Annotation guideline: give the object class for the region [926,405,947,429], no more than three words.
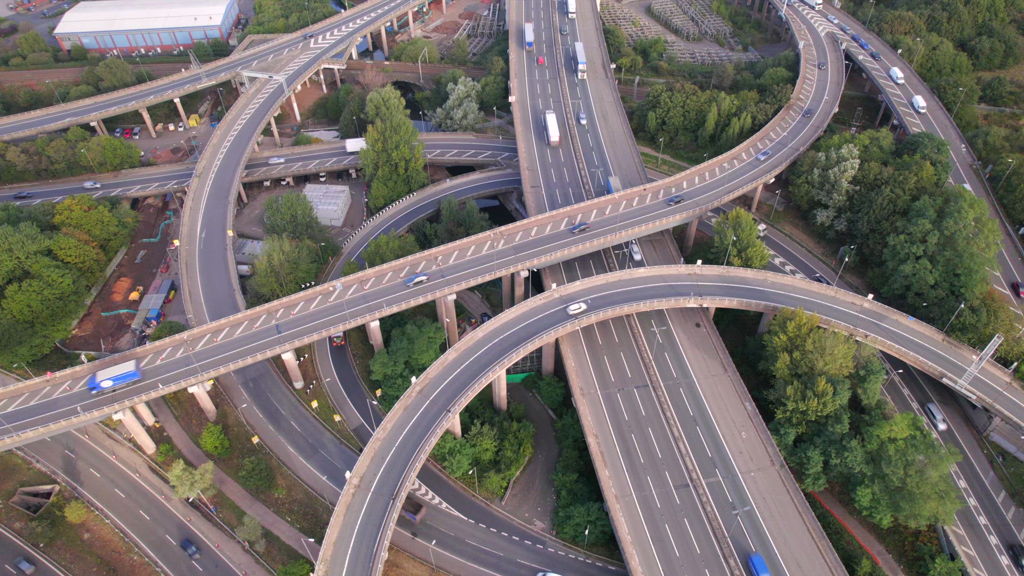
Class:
car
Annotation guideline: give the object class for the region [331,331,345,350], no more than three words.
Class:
vehicle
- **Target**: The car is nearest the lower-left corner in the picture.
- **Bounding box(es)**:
[13,555,36,573]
